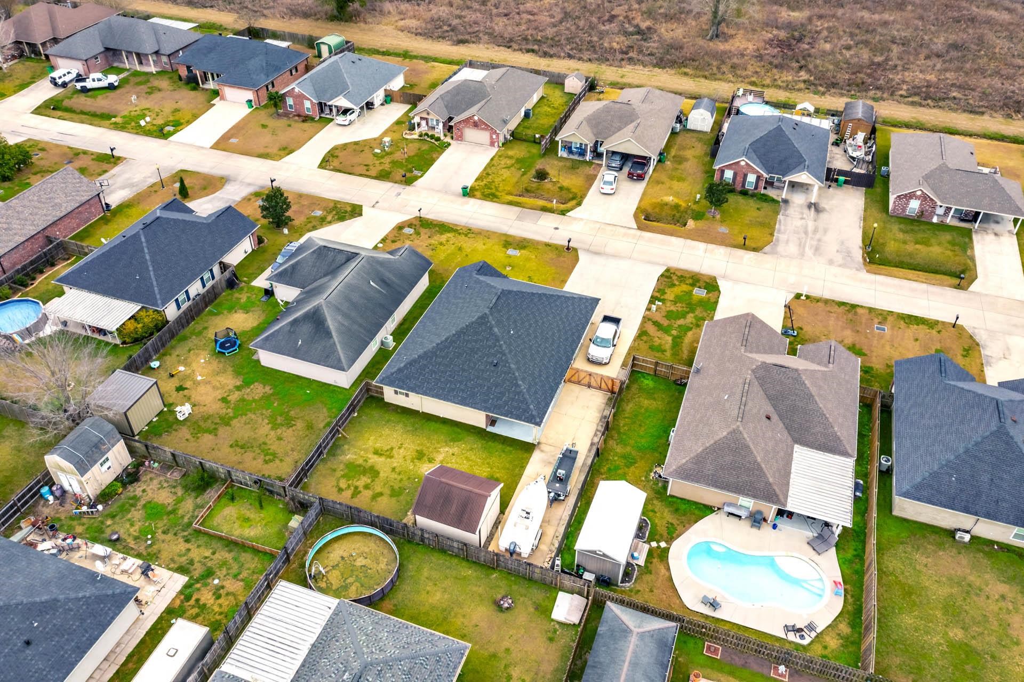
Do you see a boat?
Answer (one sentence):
Yes, there's a boat here.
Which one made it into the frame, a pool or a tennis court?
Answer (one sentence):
This aerial view contains a pool.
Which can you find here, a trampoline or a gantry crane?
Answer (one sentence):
There is a trampoline in the scene.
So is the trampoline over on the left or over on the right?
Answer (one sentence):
The trampoline is on the left side of the image.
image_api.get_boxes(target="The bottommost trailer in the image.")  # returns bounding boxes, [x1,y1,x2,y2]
[132,618,222,682]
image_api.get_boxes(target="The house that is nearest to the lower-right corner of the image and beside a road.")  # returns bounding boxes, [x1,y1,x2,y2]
[887,354,1024,553]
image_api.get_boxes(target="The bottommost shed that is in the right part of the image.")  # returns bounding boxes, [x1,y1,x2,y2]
[583,601,681,682]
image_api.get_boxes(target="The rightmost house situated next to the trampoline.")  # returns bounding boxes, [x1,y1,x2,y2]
[250,236,438,392]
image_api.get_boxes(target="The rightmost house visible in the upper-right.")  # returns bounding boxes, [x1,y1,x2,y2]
[886,131,1024,239]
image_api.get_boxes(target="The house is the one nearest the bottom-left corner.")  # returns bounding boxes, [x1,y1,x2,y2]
[0,538,140,682]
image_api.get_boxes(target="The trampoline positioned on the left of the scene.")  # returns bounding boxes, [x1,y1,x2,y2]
[208,324,240,355]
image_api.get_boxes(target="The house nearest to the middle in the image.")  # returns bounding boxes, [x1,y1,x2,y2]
[373,260,600,444]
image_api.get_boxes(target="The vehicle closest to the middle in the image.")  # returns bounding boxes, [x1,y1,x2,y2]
[587,306,625,364]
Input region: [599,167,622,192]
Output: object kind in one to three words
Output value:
car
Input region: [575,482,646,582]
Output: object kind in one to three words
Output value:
shed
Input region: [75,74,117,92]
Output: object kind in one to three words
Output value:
vehicle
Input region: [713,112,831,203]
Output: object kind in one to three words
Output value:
house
